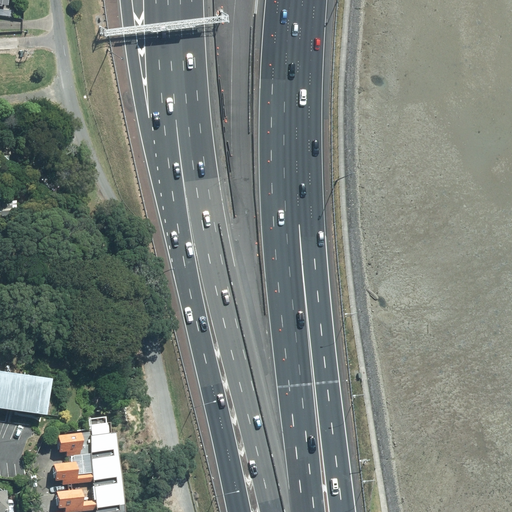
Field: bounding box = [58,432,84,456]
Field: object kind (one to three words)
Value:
house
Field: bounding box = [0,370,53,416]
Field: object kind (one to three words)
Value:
building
